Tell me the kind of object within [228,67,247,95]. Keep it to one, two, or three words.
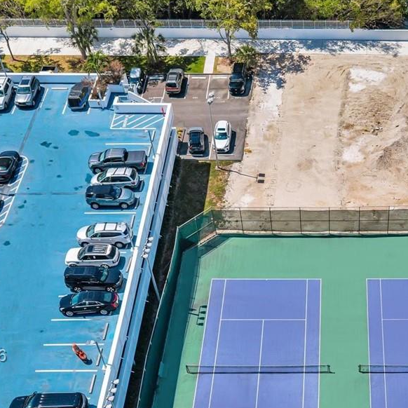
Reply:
vehicle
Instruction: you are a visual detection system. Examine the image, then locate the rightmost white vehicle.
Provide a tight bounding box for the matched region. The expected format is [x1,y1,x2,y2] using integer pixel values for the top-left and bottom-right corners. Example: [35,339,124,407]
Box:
[213,123,233,152]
